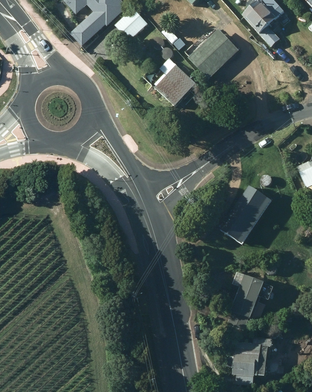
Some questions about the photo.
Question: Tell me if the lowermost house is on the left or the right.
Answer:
right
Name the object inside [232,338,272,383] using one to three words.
house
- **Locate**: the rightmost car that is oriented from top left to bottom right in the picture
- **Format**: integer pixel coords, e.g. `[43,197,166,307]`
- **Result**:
[290,64,305,79]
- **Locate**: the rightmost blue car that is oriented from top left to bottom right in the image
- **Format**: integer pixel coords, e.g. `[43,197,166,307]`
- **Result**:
[275,48,292,62]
